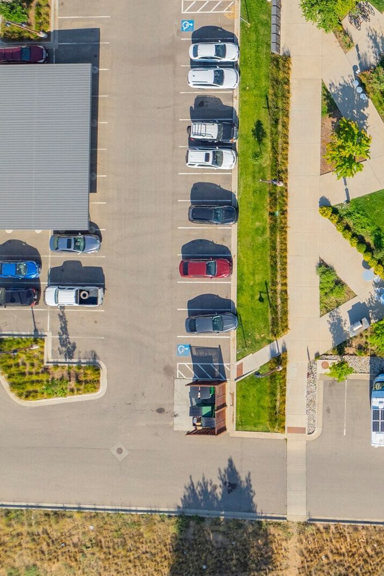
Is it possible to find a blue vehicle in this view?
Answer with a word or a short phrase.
Yes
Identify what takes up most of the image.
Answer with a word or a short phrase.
paved ground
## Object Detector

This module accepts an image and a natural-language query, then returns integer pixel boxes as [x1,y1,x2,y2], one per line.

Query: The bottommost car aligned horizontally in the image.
[186,311,239,335]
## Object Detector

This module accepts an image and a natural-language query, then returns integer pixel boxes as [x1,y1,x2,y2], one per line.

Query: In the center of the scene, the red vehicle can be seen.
[179,256,234,280]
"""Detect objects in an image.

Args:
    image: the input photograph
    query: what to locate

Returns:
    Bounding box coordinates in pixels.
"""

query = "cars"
[50,232,104,255]
[184,146,238,169]
[0,285,43,308]
[0,43,50,63]
[186,311,239,335]
[179,256,234,280]
[190,40,240,64]
[187,119,239,144]
[188,203,239,225]
[0,259,45,280]
[186,65,240,90]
